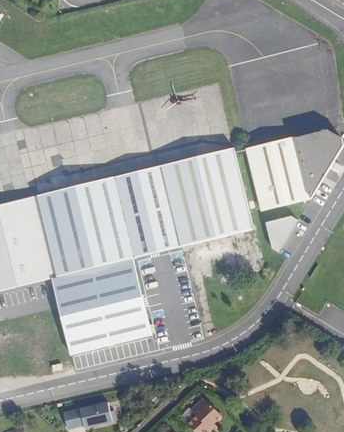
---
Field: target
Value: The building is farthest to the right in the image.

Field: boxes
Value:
[294,128,344,199]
